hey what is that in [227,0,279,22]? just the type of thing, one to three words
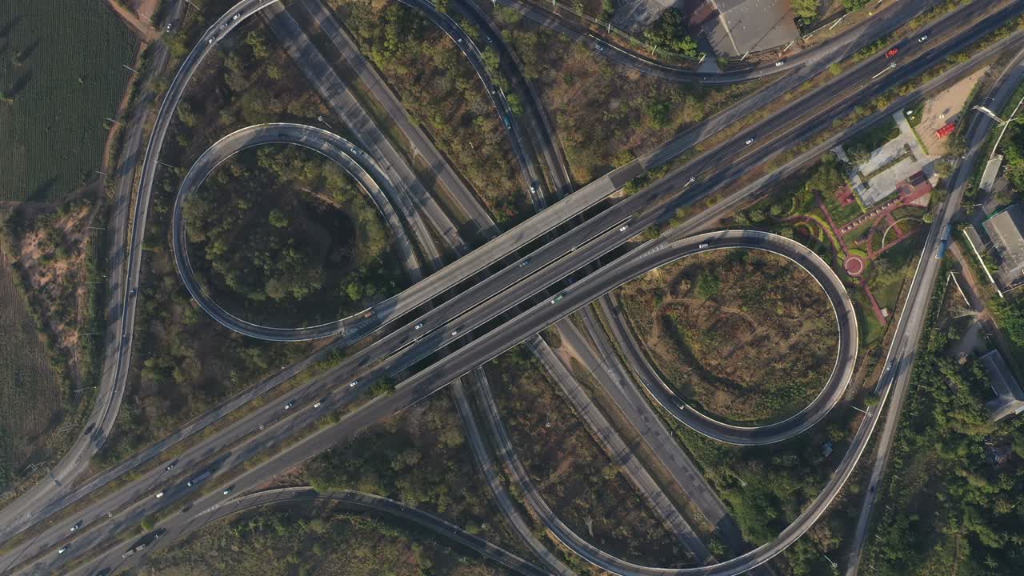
overpass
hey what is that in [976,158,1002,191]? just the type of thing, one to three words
shed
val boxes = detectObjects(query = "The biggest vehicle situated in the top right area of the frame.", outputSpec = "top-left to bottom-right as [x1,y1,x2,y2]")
[936,122,959,137]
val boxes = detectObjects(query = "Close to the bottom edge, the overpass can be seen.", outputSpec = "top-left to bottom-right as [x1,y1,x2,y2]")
[618,537,783,576]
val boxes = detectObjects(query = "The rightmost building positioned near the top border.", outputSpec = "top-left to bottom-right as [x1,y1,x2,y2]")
[702,0,800,59]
